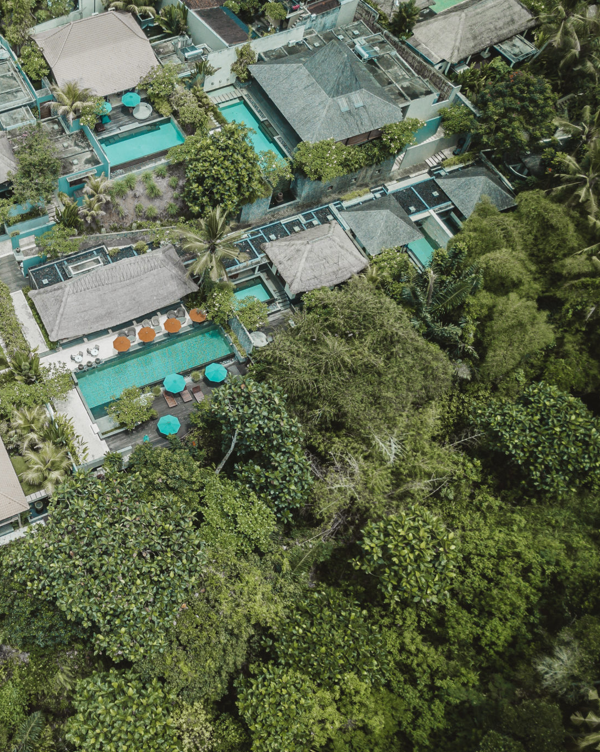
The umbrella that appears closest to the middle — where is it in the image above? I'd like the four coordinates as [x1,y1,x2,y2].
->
[205,364,226,385]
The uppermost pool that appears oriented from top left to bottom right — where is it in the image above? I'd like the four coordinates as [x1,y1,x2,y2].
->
[215,95,292,181]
